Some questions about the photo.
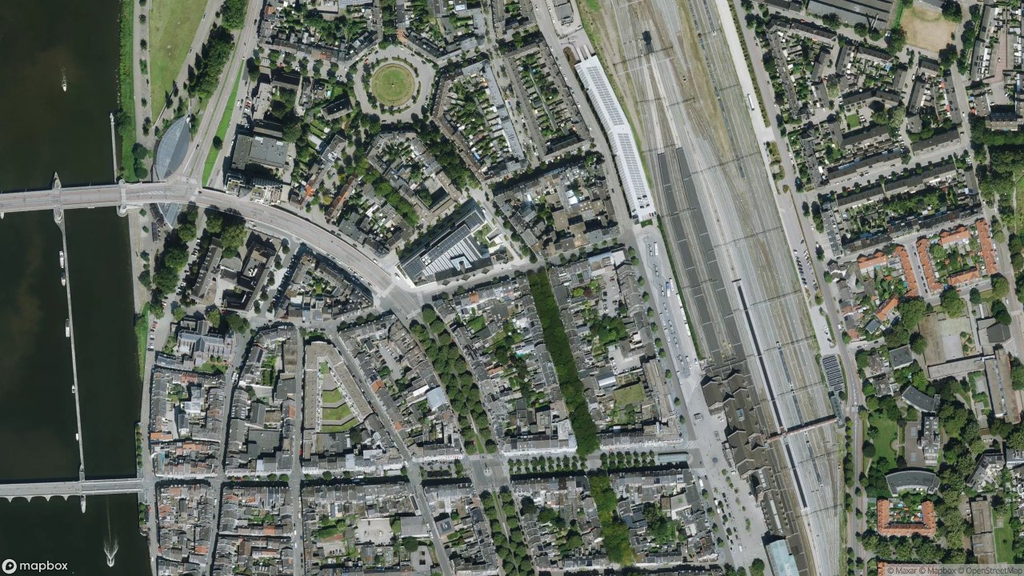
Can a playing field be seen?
Yes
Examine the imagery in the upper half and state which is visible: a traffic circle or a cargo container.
traffic circle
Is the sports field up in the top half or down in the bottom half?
top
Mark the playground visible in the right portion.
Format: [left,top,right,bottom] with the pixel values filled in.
[919,312,976,367]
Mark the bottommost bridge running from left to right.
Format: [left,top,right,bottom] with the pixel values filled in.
[0,467,143,516]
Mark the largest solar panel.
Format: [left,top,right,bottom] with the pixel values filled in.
[403,256,425,279]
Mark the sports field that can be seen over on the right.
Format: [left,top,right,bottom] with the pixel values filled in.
[902,5,958,53]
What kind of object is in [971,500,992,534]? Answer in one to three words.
building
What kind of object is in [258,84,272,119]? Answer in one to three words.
house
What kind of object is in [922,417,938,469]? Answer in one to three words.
house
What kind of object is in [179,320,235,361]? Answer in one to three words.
building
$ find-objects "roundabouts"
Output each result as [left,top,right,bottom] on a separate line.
[365,56,420,114]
